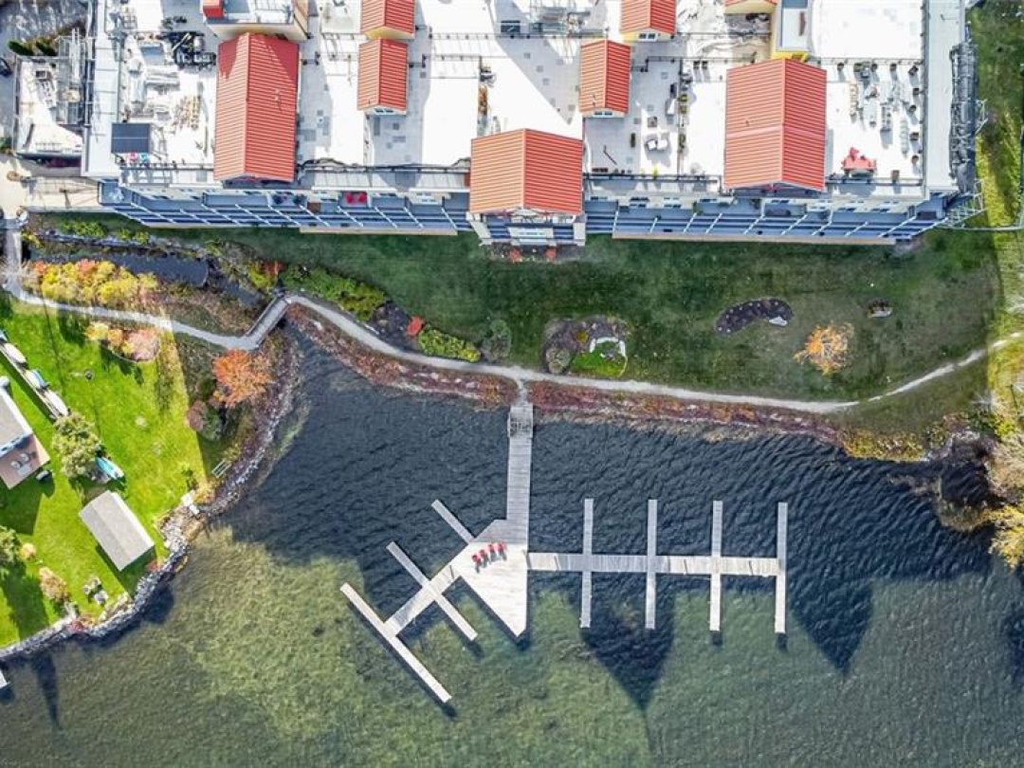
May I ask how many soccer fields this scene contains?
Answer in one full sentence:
No soccer fields are visible.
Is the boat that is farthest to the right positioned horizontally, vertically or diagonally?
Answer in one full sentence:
The boat that is farthest to the right has been laid out diagonally relative to the frame.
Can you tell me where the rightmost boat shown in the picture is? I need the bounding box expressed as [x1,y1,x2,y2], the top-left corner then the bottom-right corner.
[95,457,122,480]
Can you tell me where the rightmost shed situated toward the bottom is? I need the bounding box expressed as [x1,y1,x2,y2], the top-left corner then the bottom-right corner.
[78,490,159,571]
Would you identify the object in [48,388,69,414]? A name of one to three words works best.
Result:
boat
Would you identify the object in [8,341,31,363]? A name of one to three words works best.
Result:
boat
